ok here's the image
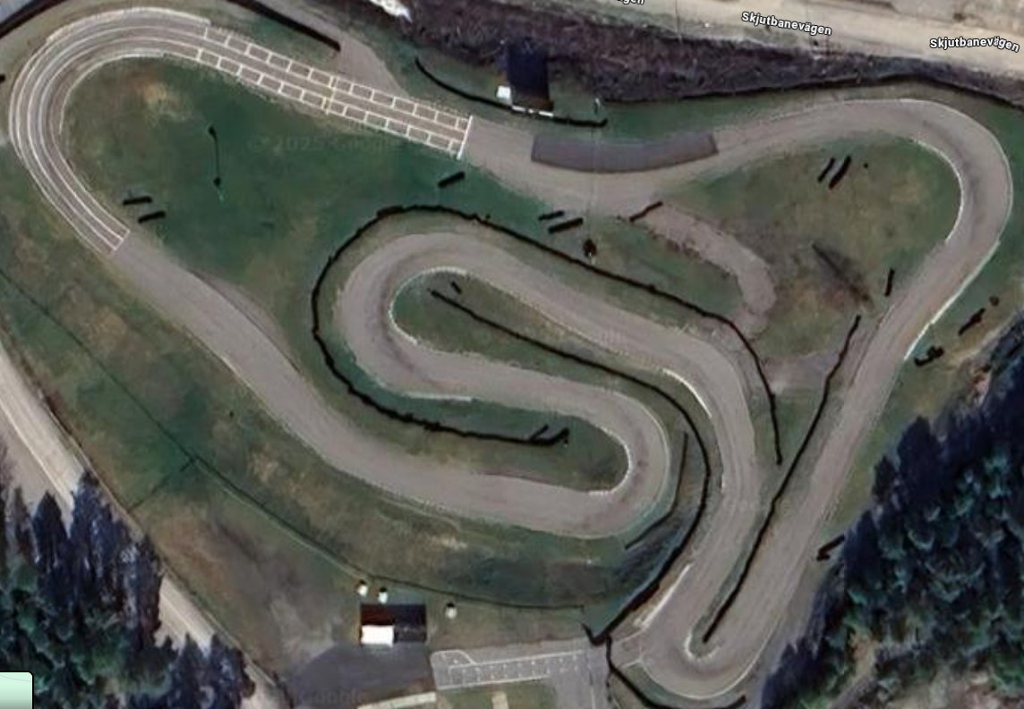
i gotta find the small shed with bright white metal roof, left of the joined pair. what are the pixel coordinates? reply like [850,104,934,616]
[360,620,392,644]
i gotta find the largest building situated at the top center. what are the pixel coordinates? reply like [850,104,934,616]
[509,85,552,113]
